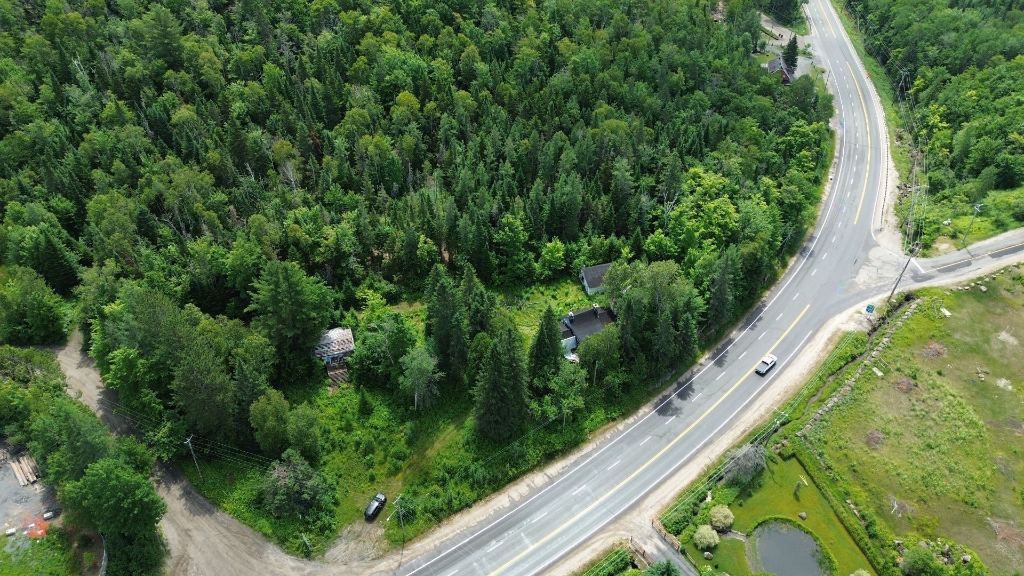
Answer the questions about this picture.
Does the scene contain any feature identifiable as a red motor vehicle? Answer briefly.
No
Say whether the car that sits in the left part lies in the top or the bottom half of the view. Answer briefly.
bottom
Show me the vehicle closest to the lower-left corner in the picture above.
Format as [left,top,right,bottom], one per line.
[363,494,386,522]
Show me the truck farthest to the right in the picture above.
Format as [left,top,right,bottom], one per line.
[754,356,779,378]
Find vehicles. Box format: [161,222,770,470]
[754,356,779,378]
[363,494,386,522]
